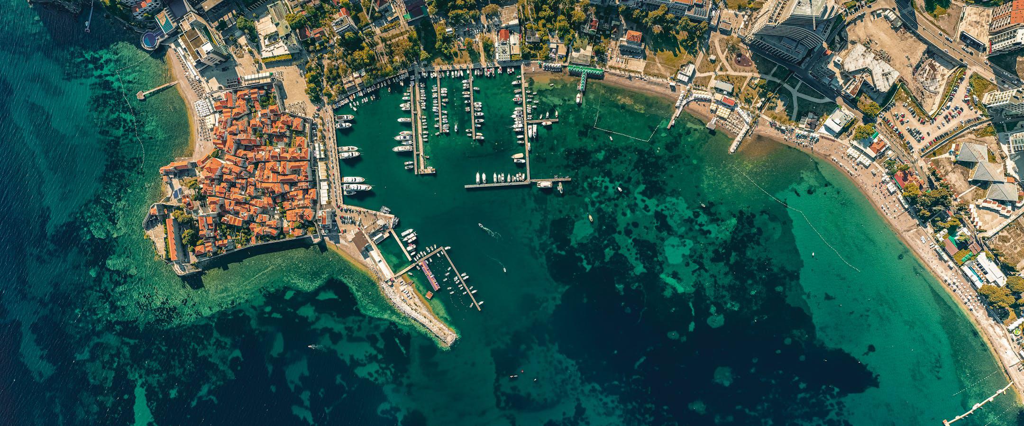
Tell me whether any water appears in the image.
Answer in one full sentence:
Yes, some water is visible.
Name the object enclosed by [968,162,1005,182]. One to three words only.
building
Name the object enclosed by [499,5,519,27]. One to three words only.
house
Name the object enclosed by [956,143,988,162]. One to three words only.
building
